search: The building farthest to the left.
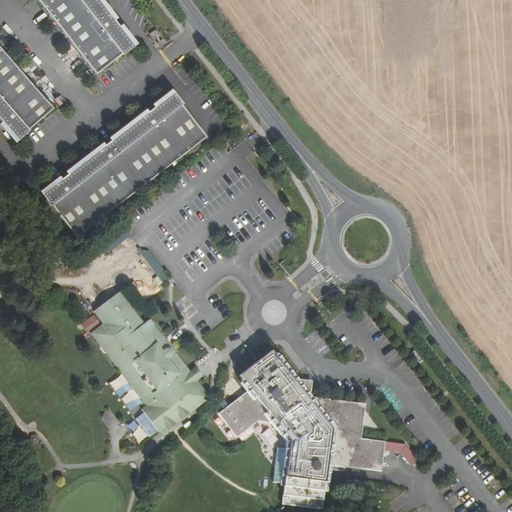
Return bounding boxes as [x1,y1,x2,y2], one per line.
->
[0,46,55,142]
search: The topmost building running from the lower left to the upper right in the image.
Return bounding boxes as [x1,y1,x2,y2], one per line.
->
[41,89,208,236]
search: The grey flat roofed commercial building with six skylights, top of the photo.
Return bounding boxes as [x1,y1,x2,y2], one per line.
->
[39,0,140,74]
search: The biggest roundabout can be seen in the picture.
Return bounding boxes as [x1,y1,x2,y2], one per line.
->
[321,186,414,300]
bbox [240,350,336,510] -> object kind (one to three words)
building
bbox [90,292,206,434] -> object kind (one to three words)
building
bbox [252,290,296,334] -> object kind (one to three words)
roundabout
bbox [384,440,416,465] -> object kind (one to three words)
shed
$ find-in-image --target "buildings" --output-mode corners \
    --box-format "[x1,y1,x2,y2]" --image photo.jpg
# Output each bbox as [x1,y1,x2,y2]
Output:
[0,46,55,142]
[90,292,206,434]
[240,350,336,510]
[384,440,416,465]
[39,0,140,74]
[138,248,168,282]
[41,89,208,236]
